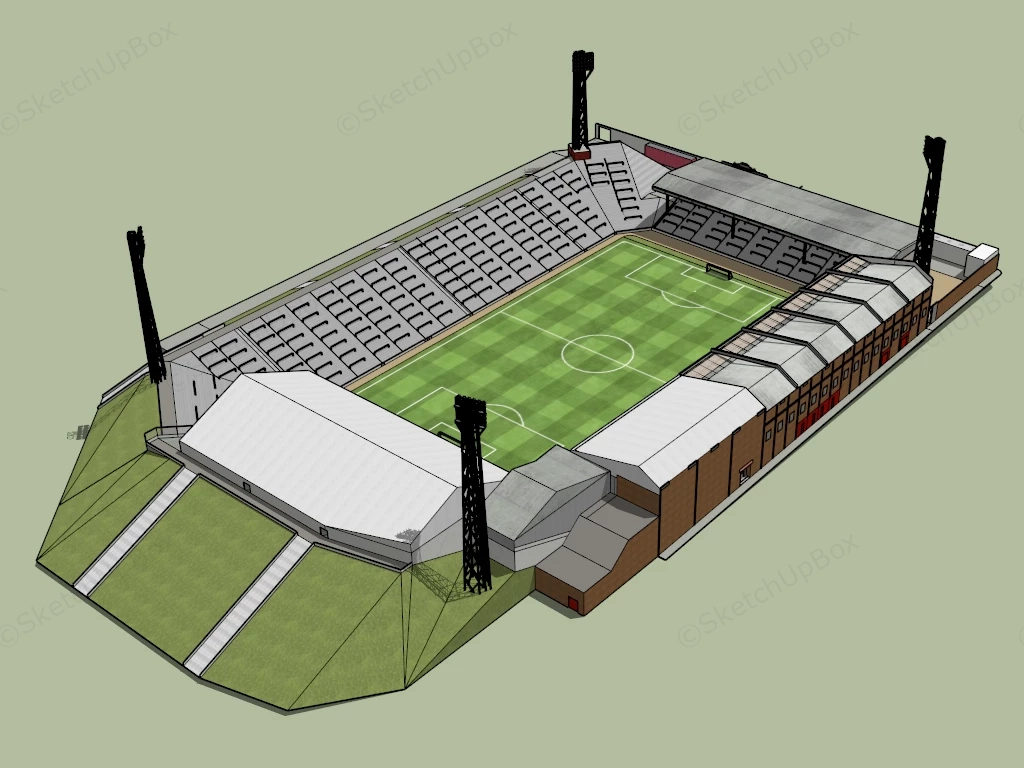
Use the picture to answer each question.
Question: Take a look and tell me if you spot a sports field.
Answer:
Yes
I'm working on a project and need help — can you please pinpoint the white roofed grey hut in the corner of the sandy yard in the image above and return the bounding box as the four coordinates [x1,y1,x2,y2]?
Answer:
[964,244,999,278]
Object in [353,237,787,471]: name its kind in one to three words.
sports field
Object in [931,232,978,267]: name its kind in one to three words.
building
